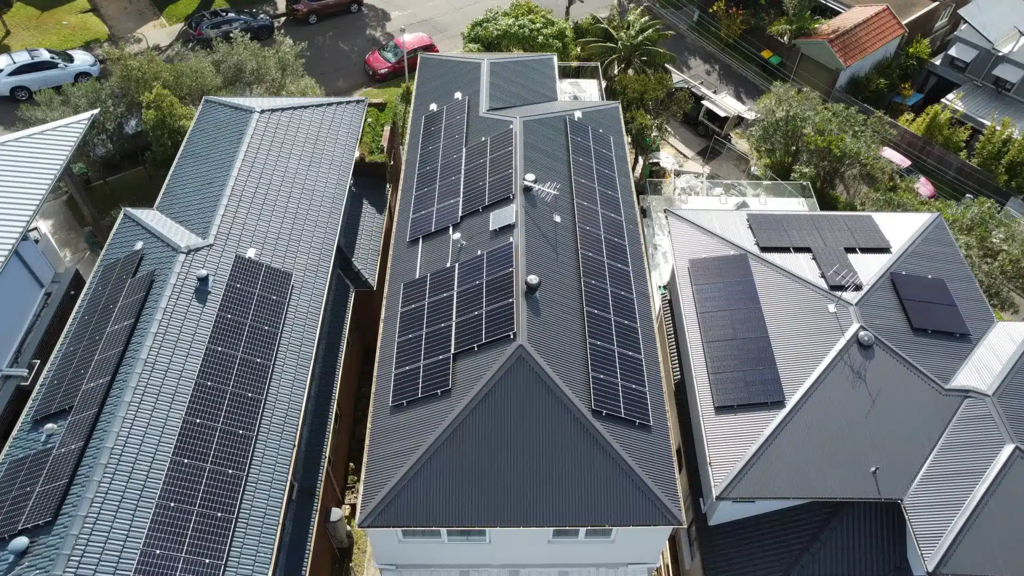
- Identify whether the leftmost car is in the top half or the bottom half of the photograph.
top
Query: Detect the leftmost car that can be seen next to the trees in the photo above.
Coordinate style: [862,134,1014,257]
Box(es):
[0,41,103,102]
